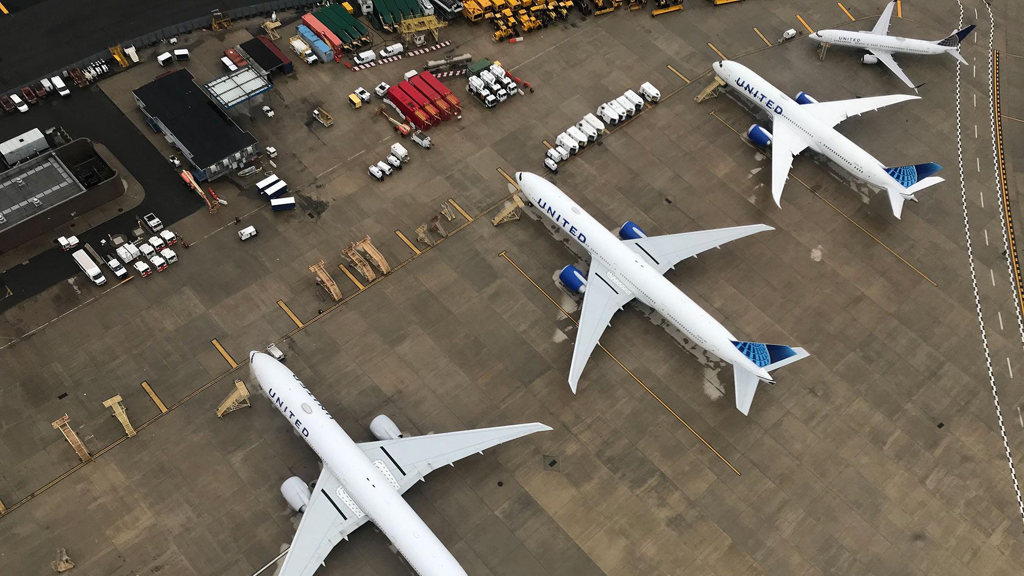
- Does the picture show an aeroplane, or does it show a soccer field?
aeroplane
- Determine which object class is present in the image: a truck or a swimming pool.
truck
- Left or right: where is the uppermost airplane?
right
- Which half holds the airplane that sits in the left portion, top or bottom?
bottom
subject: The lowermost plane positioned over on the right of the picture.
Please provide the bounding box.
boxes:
[514,174,811,416]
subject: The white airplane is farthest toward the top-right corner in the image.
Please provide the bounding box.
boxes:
[809,0,976,92]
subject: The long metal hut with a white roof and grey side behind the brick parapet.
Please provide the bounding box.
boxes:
[0,128,49,171]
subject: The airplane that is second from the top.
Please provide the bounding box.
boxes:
[712,61,944,220]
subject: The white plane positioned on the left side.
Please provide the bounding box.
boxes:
[248,353,553,576]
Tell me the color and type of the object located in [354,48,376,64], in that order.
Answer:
white vehicle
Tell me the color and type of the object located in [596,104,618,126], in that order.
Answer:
white truck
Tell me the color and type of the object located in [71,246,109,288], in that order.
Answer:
white truck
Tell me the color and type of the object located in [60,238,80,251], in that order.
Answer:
white vehicle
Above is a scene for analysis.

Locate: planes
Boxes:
[248,353,553,576]
[809,0,976,92]
[514,174,811,416]
[712,61,944,220]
